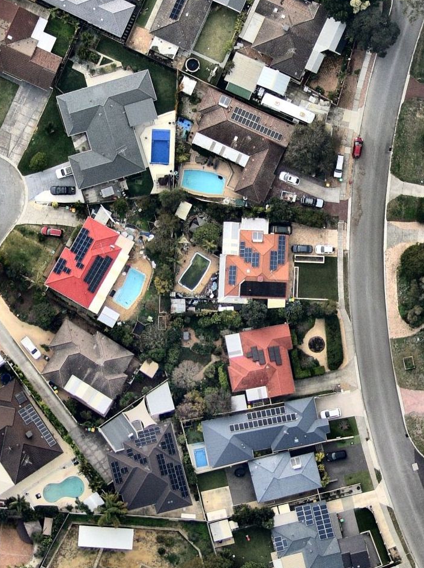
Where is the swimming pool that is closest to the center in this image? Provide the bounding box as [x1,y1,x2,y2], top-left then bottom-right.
[177,253,212,291]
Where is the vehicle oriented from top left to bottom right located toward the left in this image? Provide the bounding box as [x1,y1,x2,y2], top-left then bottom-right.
[19,337,41,359]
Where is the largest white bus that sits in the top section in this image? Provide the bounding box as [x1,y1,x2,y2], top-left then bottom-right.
[258,91,317,122]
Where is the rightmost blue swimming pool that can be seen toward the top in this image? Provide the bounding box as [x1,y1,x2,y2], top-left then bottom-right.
[182,169,226,195]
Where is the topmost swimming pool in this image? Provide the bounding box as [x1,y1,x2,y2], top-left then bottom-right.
[150,129,170,165]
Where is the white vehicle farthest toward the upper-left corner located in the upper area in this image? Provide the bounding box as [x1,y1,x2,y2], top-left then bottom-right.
[52,166,72,180]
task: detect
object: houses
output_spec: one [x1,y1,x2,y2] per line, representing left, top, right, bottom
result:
[224,0,345,99]
[0,0,61,88]
[139,0,213,59]
[41,320,133,417]
[247,452,323,504]
[271,503,370,568]
[43,217,133,314]
[0,381,62,495]
[54,69,156,189]
[189,88,294,203]
[201,396,330,469]
[97,397,192,514]
[43,0,134,37]
[218,218,290,308]
[224,323,295,412]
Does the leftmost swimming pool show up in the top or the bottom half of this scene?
bottom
